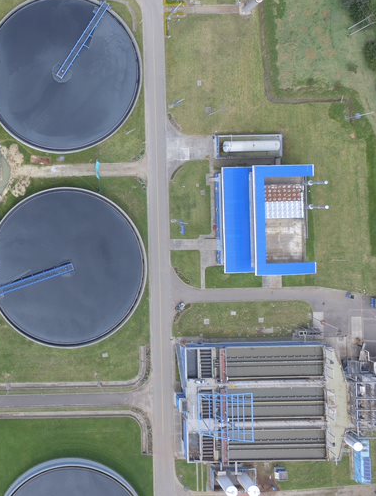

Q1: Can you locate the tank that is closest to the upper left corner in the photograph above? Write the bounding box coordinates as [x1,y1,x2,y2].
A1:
[0,0,142,153]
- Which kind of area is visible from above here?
industrial area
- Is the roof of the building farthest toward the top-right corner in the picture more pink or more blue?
blue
